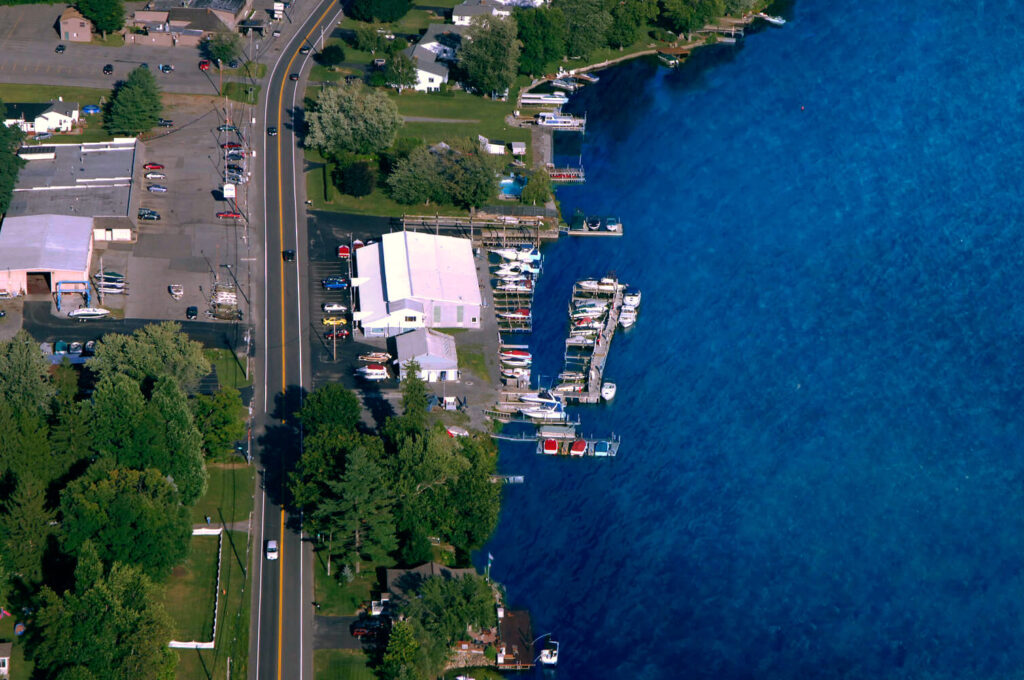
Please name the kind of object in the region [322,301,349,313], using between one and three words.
vehicle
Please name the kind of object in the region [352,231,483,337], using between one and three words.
building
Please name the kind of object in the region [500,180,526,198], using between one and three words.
swimming pool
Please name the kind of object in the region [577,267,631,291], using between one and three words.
boat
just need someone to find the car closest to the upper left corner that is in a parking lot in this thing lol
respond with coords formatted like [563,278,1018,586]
[56,41,68,53]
